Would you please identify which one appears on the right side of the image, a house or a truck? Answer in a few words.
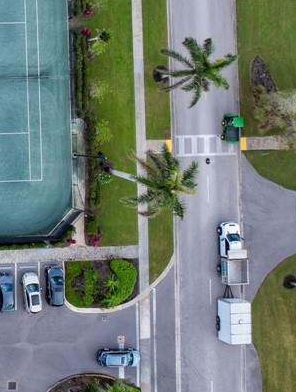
truck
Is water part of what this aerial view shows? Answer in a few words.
No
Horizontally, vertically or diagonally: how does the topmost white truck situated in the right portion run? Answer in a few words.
vertically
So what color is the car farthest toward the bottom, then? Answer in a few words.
blue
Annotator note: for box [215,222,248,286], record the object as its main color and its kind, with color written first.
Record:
white truck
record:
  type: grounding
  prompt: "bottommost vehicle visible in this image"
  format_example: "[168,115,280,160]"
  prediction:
[95,346,139,368]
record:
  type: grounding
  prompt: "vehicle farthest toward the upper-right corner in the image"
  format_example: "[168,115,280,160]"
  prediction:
[219,116,242,142]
